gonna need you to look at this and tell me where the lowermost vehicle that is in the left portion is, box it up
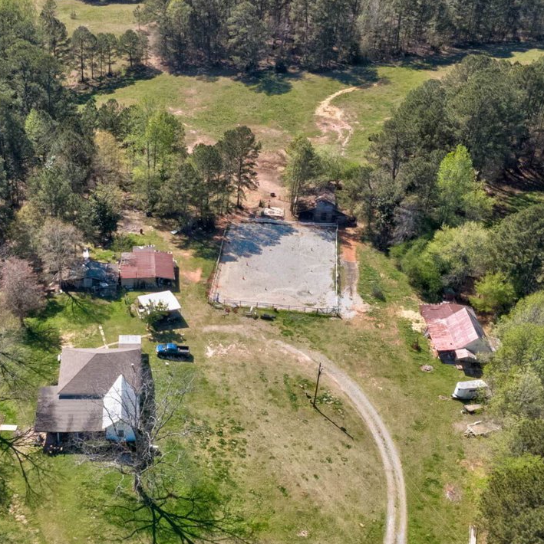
[157,346,192,361]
